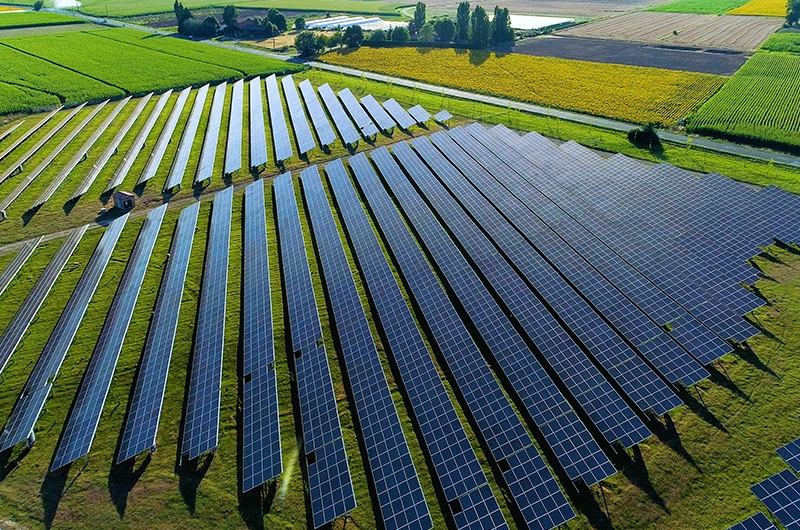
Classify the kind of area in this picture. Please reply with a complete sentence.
This looks like a solar farm.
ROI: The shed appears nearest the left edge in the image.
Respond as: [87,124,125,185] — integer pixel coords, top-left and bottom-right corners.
[109,188,136,209]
